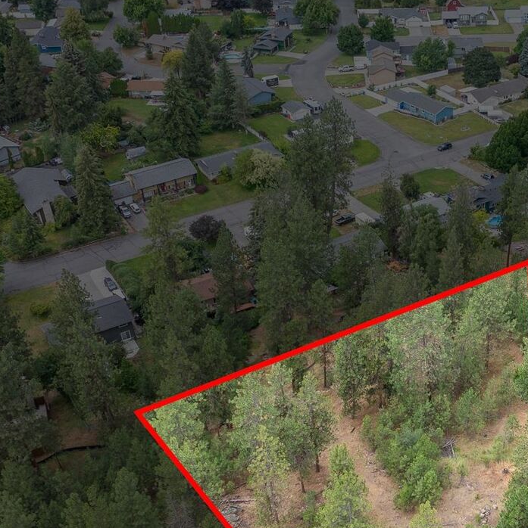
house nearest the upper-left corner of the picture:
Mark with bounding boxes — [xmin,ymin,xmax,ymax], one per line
[9,12,47,39]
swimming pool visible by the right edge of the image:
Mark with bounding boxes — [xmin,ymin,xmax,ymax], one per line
[485,210,504,227]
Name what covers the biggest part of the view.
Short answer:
trees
